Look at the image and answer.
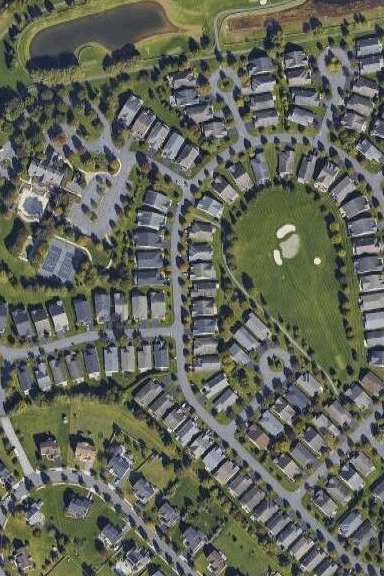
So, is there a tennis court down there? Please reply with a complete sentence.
Yes, a tennis court is visible in the scene.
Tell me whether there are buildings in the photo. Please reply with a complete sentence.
Yes, the picture does show a building.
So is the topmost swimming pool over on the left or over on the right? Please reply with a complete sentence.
The topmost swimming pool sits on the left side.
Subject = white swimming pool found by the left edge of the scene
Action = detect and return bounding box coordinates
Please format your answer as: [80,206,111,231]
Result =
[19,185,49,223]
